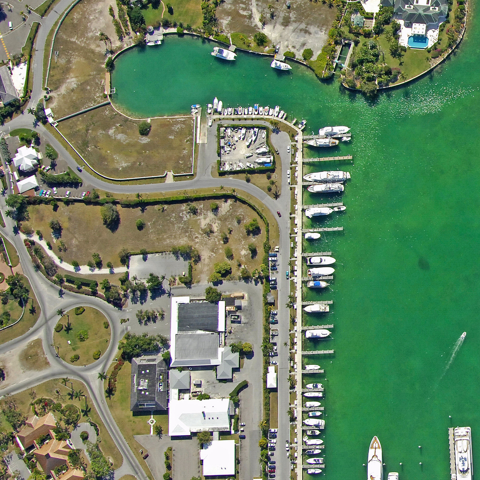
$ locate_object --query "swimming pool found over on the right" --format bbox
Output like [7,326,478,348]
[407,36,430,51]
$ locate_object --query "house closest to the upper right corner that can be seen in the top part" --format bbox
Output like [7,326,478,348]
[393,0,448,36]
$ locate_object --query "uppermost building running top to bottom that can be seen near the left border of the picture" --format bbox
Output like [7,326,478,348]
[0,61,21,106]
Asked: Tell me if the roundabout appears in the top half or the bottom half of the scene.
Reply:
bottom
